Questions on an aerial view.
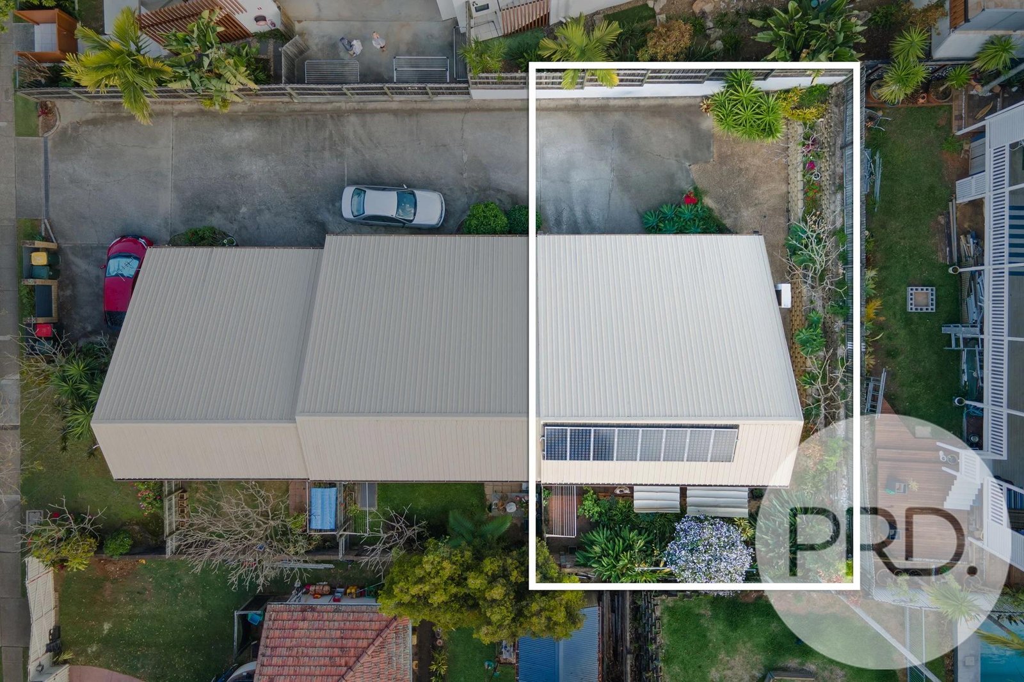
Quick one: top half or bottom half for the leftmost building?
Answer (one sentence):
The leftmost building sits in the top half of the picture.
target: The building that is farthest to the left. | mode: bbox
[12,5,77,63]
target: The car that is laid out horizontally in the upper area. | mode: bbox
[344,185,444,228]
